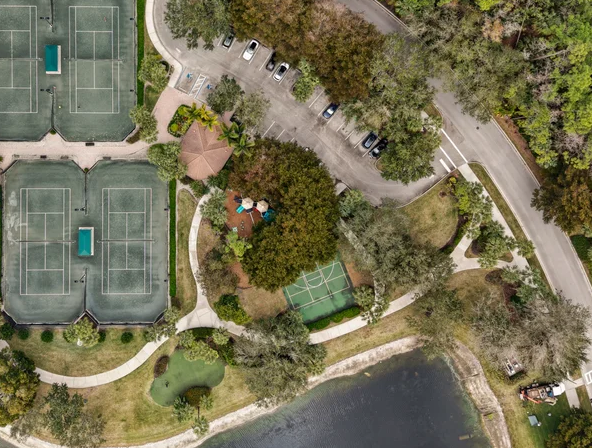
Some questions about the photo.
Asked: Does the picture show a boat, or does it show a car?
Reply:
car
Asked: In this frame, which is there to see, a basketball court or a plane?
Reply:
basketball court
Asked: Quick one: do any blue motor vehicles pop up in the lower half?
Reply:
No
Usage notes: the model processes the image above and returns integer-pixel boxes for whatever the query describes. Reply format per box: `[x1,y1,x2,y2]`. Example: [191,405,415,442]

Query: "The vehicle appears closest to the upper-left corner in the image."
[221,28,236,48]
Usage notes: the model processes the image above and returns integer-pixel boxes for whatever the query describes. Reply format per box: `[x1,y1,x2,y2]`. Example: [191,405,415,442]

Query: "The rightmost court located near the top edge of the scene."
[53,0,135,140]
